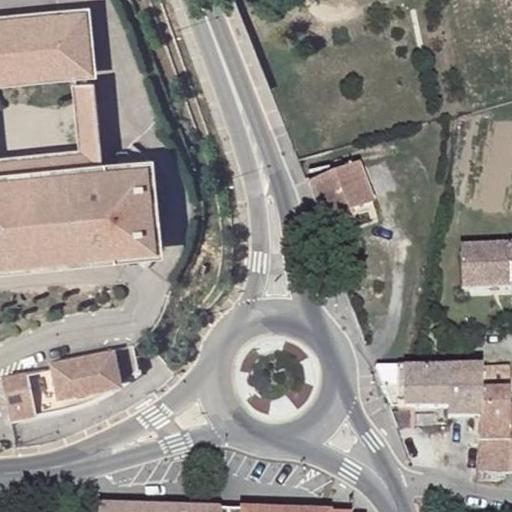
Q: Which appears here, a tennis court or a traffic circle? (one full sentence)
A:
The one in the frame is a traffic circle.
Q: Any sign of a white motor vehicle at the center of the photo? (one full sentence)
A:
No, at the center of the photo there is no white motor vehicle.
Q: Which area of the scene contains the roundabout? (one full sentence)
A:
The roundabout is in the bottom part of the image.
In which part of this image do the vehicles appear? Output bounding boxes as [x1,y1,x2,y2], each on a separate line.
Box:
[488,500,508,512]
[452,422,462,442]
[404,436,418,458]
[274,464,292,485]
[372,226,394,240]
[250,460,266,480]
[19,352,47,368]
[464,496,488,509]
[144,486,167,496]
[48,346,70,358]
[468,448,478,468]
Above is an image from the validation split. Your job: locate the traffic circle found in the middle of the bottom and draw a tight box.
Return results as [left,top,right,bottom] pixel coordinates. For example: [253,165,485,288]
[204,306,352,454]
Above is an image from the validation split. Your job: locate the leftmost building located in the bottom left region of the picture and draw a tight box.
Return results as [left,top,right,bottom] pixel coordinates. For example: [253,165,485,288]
[2,369,49,418]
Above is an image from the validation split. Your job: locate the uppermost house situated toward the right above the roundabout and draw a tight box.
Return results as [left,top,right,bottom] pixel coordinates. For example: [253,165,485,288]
[310,160,375,211]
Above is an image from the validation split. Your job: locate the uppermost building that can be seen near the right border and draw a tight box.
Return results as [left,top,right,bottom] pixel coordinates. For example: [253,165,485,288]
[461,240,512,298]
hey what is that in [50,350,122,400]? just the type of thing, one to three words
house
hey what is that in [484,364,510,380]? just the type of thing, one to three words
shed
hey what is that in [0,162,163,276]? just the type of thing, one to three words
building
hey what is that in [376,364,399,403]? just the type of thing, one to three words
building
